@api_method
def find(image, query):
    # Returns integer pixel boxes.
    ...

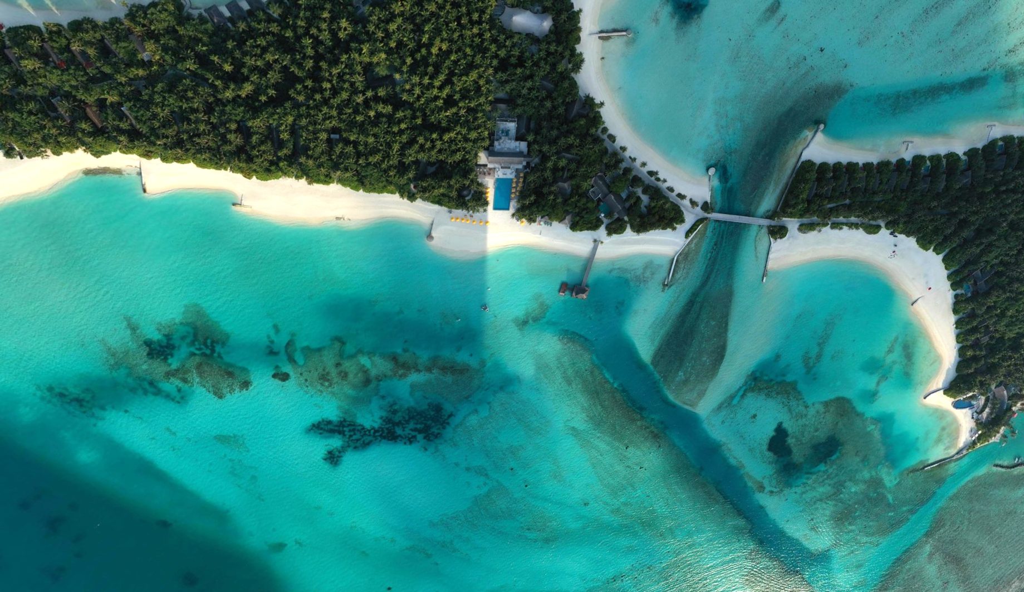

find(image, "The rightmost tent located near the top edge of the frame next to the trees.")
[499,6,554,40]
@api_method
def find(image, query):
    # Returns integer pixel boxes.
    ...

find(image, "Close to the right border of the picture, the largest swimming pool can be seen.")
[954,396,979,408]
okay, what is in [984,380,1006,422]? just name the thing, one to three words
building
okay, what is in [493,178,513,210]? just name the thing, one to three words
swimming pool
